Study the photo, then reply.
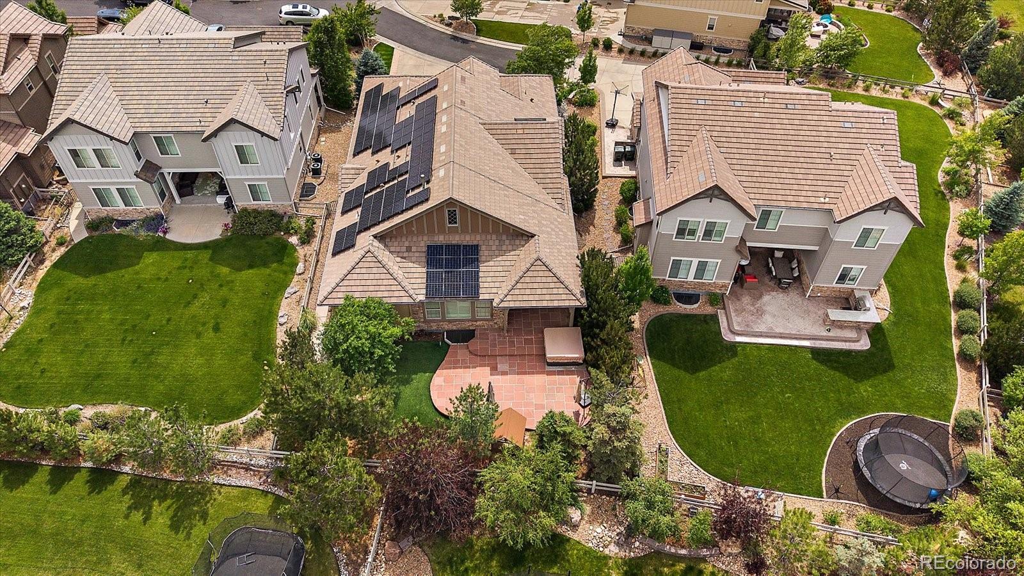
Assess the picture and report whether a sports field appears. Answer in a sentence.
No, the frame has no sports field in it.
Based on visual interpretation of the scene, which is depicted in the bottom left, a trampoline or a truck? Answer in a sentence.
The feature located in the bottom left is a trampoline.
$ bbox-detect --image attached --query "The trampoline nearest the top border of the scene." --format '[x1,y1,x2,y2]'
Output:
[849,412,970,514]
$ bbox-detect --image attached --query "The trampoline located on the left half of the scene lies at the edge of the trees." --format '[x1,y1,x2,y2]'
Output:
[192,512,316,576]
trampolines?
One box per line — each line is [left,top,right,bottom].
[192,512,316,576]
[849,412,970,514]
